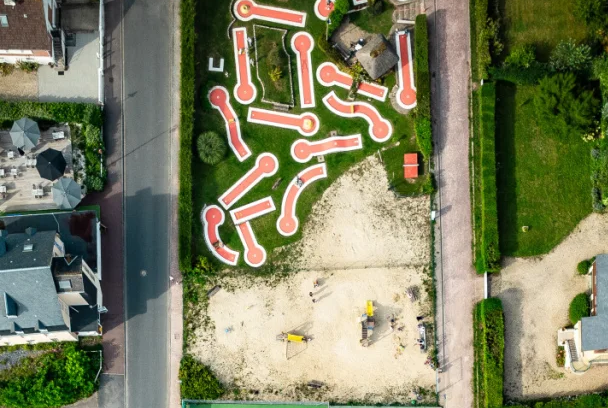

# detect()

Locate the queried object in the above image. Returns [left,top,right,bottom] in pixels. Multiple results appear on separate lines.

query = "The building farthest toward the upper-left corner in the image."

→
[0,0,59,59]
